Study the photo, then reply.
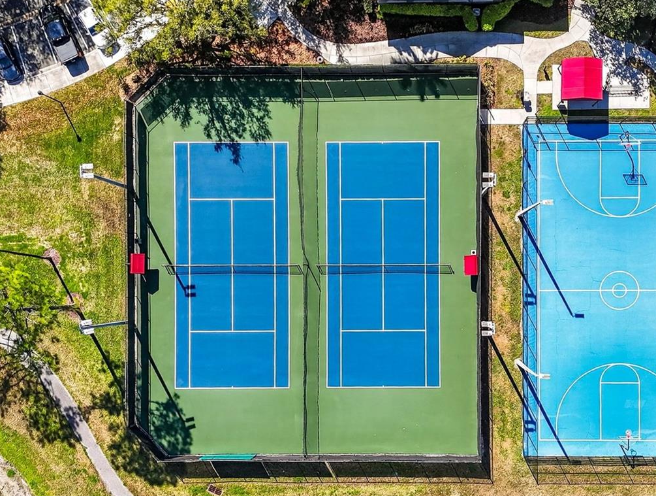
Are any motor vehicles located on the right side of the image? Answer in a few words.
No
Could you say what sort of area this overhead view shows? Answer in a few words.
sports ground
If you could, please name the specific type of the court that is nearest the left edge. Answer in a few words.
tennis court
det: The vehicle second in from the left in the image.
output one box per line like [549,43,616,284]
[41,4,86,67]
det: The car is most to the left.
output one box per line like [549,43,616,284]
[0,35,23,85]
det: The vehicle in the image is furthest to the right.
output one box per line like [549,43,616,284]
[74,4,117,58]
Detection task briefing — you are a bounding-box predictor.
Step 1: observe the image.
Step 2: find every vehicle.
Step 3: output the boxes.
[74,4,117,58]
[41,4,86,67]
[0,35,23,85]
